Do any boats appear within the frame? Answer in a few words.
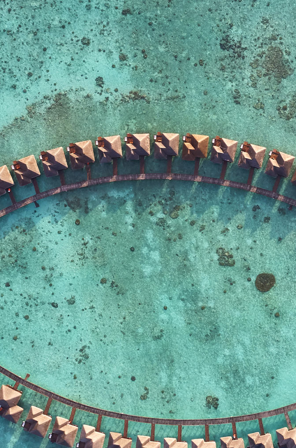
No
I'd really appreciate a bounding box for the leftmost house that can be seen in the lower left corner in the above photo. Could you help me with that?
[0,382,24,423]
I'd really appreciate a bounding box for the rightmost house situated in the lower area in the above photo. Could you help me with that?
[274,412,296,448]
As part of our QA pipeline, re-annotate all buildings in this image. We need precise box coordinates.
[65,140,95,179]
[0,165,16,203]
[152,131,179,173]
[191,426,216,448]
[21,397,53,438]
[38,147,68,185]
[94,135,122,174]
[48,407,79,448]
[136,424,160,448]
[0,382,24,423]
[218,423,244,448]
[236,139,266,184]
[123,132,150,173]
[164,425,187,448]
[274,412,296,448]
[107,420,131,448]
[10,155,41,193]
[263,148,295,192]
[246,419,273,448]
[208,134,238,179]
[76,415,106,448]
[182,131,209,175]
